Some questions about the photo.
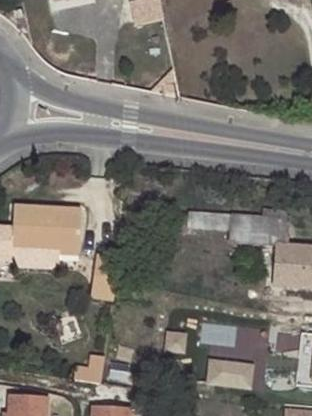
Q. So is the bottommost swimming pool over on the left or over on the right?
right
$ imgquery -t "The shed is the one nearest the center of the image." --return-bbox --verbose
[188,210,230,232]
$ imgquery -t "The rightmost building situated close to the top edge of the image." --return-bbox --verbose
[130,0,164,26]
